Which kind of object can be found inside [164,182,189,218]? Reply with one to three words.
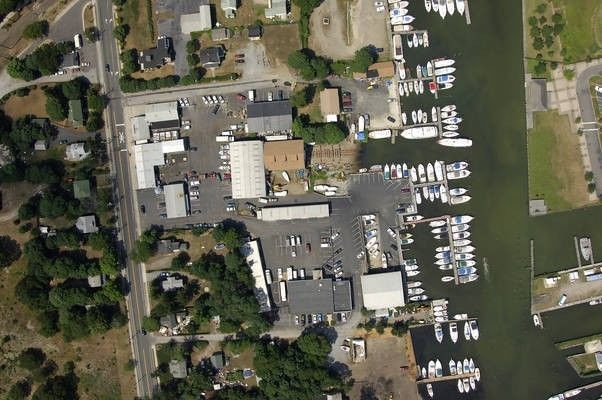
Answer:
shed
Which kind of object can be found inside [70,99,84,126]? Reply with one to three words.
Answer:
house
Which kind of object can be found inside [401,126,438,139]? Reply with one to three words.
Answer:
boat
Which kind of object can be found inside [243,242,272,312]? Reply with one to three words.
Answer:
building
